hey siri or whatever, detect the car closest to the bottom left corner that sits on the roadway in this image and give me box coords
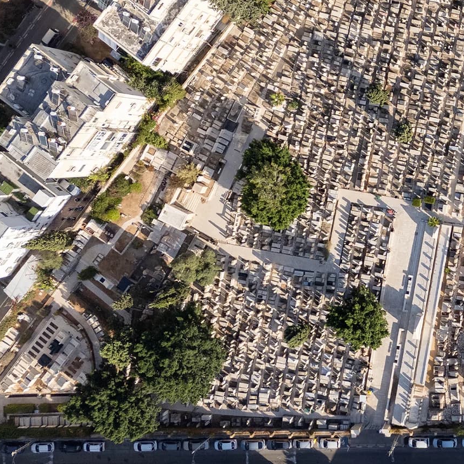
[0,442,26,455]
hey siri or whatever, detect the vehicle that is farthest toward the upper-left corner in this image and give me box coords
[36,26,61,50]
